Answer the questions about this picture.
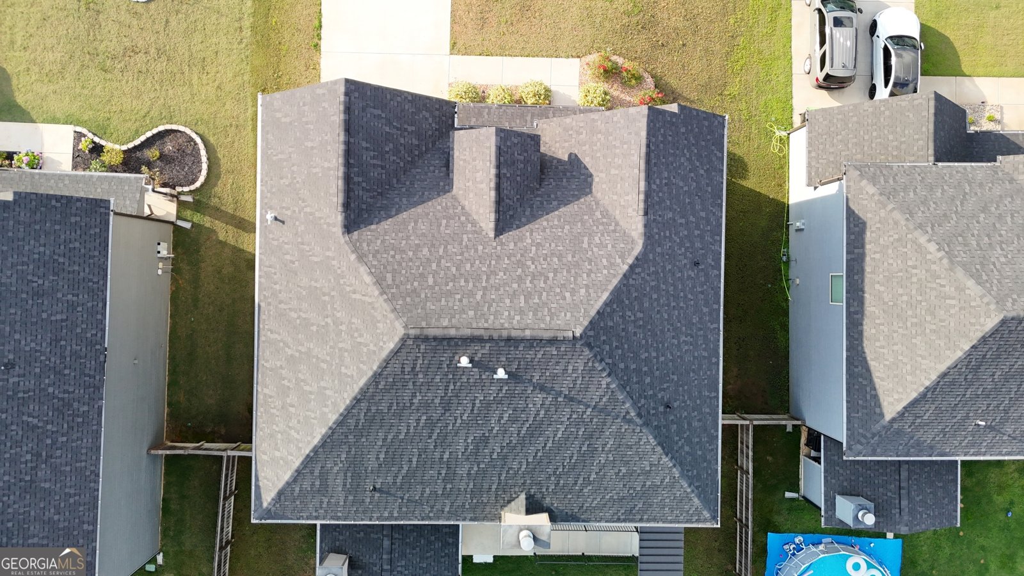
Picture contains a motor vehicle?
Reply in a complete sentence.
Yes, the image includes a motor vehicle.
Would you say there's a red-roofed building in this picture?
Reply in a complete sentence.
No, there isn't any red-roofed building down there.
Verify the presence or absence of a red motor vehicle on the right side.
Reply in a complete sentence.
No, looking on the right side, there is no red motor vehicle.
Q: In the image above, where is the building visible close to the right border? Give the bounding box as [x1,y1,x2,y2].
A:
[787,92,1024,536]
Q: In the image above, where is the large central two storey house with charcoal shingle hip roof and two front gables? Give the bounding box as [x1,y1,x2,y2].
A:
[251,76,728,576]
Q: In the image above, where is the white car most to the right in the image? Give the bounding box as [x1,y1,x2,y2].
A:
[866,5,928,101]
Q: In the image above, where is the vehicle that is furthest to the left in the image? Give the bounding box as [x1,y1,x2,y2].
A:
[802,0,866,92]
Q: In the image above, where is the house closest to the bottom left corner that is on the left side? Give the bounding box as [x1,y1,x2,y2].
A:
[0,163,185,576]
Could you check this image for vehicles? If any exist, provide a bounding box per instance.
[802,0,866,92]
[866,5,928,101]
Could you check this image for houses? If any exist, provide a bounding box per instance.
[251,76,728,576]
[787,92,1024,536]
[0,163,185,576]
